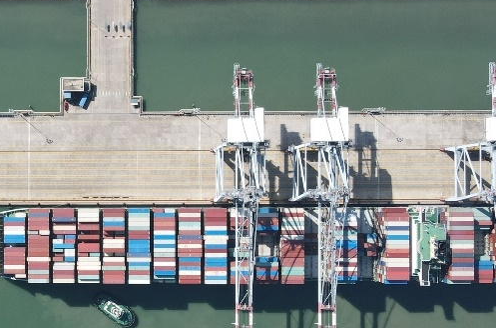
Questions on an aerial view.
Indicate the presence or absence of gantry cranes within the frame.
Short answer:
Yes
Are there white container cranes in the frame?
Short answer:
Yes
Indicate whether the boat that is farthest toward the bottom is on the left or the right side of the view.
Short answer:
left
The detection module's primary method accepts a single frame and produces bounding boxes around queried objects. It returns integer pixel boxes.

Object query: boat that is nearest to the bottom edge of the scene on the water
[92,291,136,328]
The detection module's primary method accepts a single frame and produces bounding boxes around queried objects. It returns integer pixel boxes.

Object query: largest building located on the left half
[61,78,83,92]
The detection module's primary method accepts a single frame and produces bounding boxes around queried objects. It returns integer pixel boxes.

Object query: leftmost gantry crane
[210,64,268,328]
